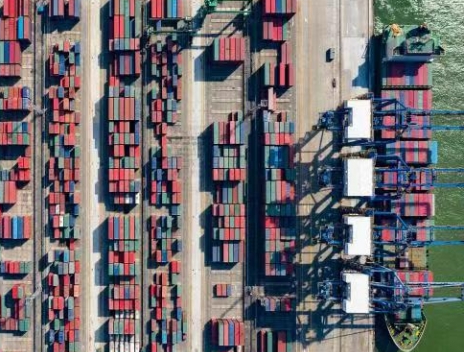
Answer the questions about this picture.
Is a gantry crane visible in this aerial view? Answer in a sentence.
Yes, the photo shows a gantry crane.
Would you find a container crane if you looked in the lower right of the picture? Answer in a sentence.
Yes, the scene does show a container crane in the lower right of the picture.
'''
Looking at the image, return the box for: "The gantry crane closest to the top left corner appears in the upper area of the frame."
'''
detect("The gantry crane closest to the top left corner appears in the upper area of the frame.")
[144,16,195,46]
